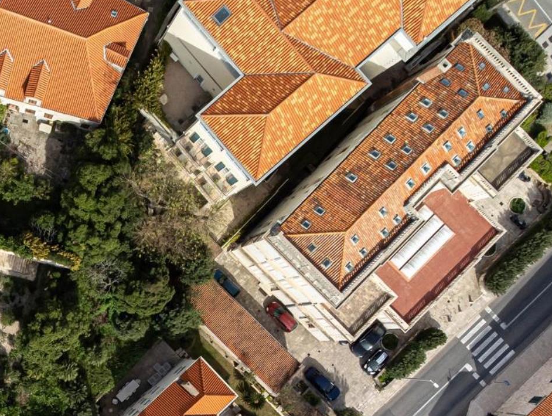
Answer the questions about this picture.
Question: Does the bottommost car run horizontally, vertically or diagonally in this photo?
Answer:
diagonally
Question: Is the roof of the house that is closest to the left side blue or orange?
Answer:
orange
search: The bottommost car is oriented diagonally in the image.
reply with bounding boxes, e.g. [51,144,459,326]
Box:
[302,363,339,403]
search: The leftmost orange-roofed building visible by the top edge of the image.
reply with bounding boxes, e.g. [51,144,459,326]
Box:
[0,0,149,139]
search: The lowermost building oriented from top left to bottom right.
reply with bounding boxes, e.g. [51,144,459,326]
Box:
[188,280,300,395]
